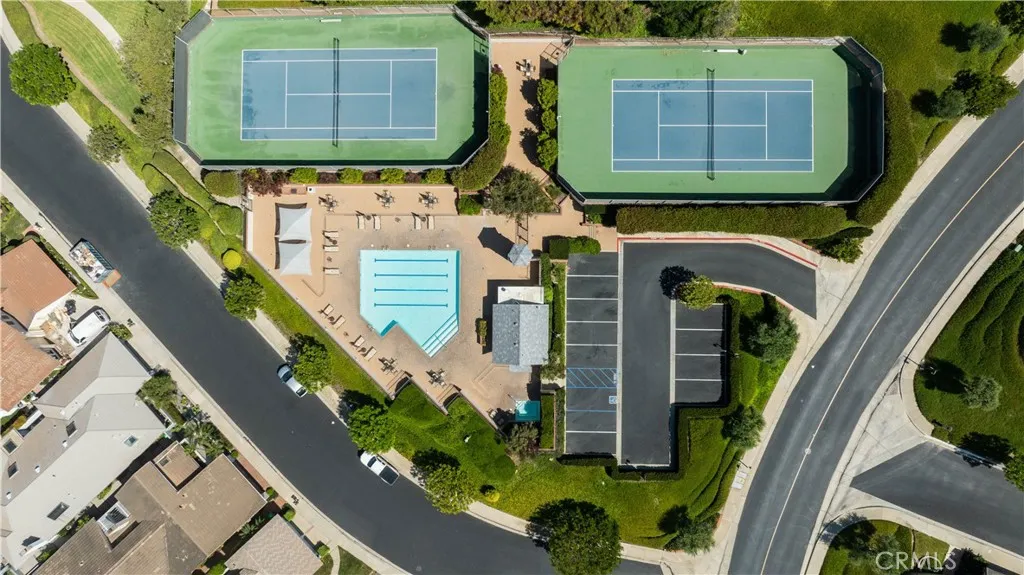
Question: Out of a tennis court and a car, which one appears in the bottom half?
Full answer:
The feature located in the bottom half is a car.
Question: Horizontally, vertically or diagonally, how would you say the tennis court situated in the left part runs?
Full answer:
I'd say the tennis court situated in the left part is aligned horizontally in the picture.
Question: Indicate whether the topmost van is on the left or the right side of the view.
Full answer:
The topmost van is on the left side of the image.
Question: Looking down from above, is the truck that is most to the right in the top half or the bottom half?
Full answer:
The truck that is most to the right sits in the bottom half of the picture.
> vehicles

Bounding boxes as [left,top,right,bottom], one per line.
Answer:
[70,311,110,344]
[276,364,307,399]
[359,452,401,486]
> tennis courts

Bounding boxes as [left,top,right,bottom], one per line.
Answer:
[556,46,866,204]
[189,15,488,170]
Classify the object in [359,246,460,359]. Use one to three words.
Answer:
swimming pool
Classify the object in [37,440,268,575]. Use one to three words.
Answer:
house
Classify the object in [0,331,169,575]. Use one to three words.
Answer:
house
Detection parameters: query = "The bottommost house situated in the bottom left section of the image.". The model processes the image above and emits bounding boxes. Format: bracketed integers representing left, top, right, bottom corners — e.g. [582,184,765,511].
[225,514,323,575]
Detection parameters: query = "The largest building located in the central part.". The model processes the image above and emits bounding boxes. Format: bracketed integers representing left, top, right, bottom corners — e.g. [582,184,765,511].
[493,286,548,373]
